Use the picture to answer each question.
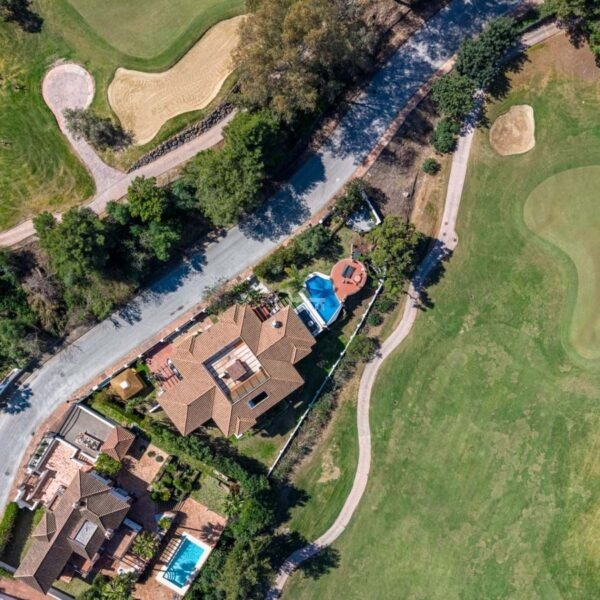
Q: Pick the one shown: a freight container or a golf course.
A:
golf course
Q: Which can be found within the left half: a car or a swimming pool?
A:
swimming pool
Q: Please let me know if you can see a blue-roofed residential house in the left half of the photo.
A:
No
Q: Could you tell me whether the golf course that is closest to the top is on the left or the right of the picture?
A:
left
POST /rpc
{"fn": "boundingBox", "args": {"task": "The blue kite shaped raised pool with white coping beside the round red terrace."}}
[299,272,343,327]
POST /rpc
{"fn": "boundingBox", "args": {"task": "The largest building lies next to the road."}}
[148,302,316,438]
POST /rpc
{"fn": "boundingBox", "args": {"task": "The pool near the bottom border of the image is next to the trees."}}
[157,532,210,596]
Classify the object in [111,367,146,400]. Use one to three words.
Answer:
building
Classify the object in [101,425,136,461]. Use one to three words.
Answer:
shed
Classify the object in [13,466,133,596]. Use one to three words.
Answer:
house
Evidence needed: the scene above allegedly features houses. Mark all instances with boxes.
[148,302,316,438]
[13,466,133,596]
